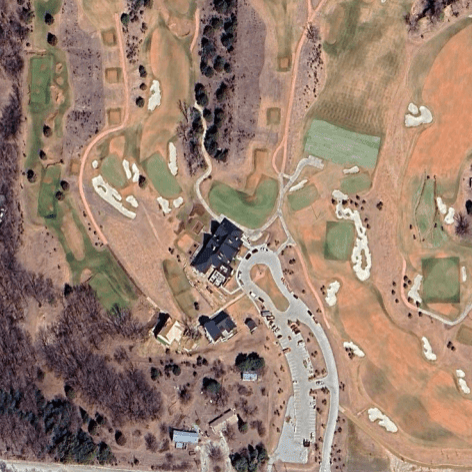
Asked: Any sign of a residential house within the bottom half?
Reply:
Yes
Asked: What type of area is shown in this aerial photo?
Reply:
golf course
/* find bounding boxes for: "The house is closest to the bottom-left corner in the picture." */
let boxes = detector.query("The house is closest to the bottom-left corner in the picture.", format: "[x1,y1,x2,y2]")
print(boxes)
[172,430,199,448]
